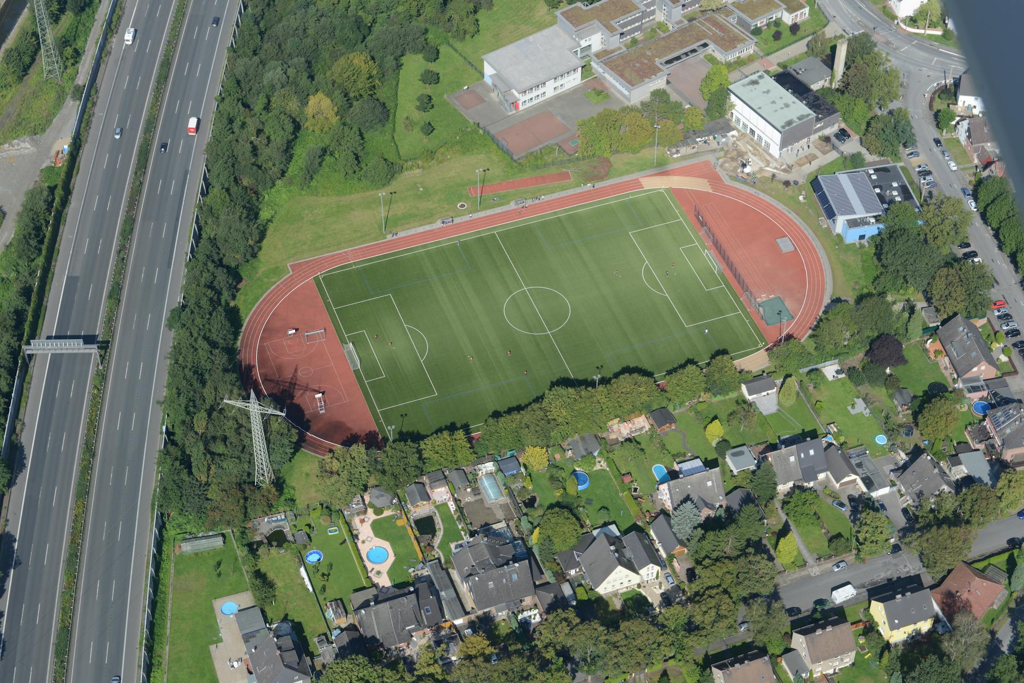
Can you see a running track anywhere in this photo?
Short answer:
Yes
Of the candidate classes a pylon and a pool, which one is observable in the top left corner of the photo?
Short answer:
pylon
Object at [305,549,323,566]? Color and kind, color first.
blue swimming pool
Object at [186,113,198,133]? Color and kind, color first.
white vehicle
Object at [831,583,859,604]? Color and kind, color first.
white vehicle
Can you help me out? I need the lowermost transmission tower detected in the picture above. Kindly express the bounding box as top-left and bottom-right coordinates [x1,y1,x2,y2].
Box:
[218,391,291,491]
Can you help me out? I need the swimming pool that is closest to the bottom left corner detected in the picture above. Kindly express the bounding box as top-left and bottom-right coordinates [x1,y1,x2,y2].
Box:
[221,601,239,618]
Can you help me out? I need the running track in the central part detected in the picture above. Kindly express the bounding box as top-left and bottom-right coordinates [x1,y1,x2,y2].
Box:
[239,179,824,463]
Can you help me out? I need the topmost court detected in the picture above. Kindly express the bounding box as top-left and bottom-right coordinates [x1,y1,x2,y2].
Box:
[495,110,570,155]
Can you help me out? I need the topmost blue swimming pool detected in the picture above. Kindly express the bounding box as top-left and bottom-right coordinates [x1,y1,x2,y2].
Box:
[972,401,991,417]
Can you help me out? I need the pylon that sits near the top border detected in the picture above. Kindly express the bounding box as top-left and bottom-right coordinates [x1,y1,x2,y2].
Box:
[30,0,66,84]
